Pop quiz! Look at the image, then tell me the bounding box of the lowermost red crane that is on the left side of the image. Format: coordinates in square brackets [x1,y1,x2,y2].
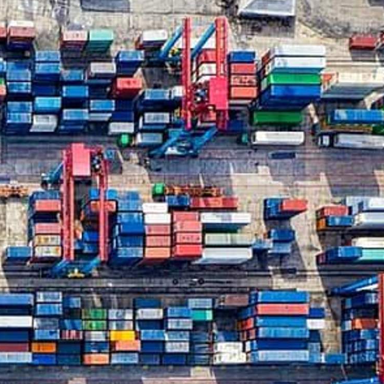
[40,141,110,283]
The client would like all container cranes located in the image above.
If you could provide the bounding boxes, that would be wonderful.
[40,141,110,283]
[148,19,228,164]
[328,272,384,384]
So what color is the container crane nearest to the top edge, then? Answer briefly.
red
